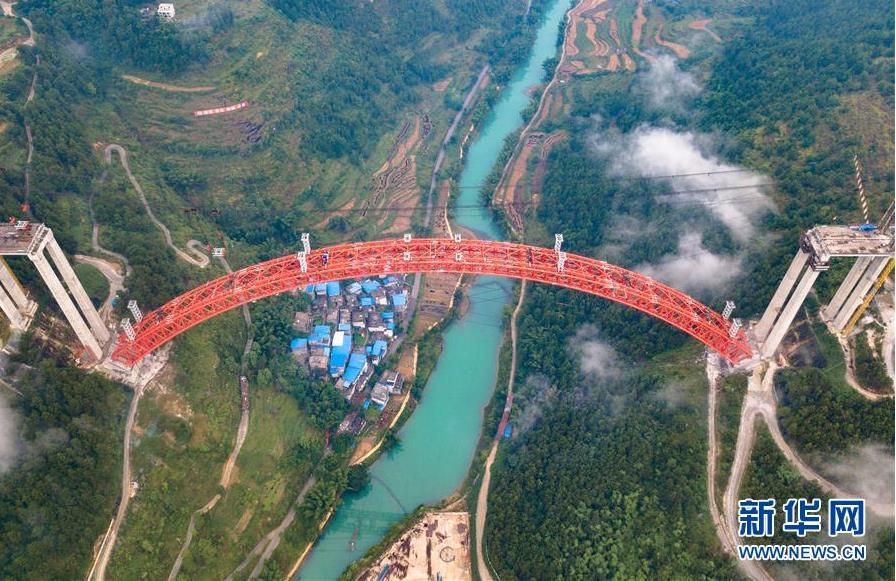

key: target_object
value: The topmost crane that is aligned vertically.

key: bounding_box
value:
[854,155,879,231]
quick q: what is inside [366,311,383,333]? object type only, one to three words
house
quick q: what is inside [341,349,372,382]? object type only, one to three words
house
